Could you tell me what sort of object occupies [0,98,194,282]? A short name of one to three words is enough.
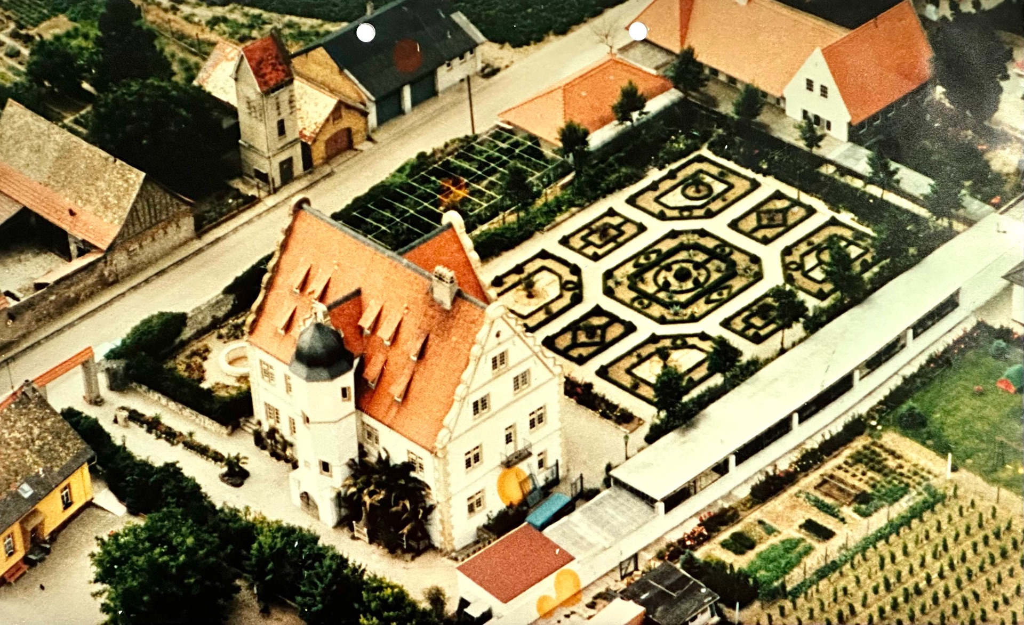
barn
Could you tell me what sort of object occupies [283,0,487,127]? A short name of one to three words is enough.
building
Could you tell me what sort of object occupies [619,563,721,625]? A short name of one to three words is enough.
shed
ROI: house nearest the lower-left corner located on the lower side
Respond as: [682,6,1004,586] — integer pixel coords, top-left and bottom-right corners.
[0,373,98,588]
